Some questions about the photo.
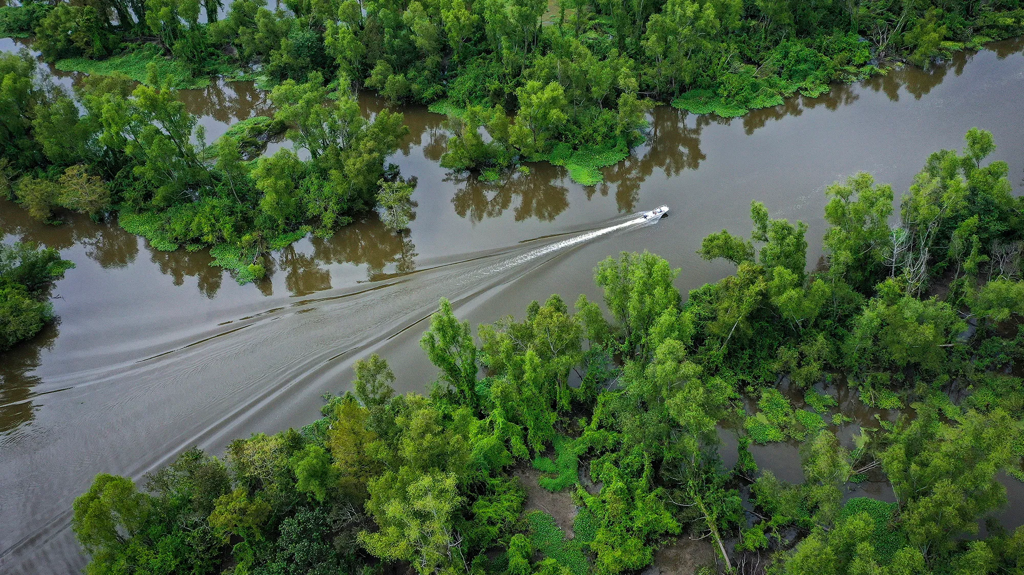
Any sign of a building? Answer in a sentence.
No, this view has no building in it.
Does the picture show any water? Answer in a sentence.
Yes, the picture does contain water.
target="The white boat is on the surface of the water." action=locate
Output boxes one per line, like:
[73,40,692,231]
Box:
[642,201,670,221]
